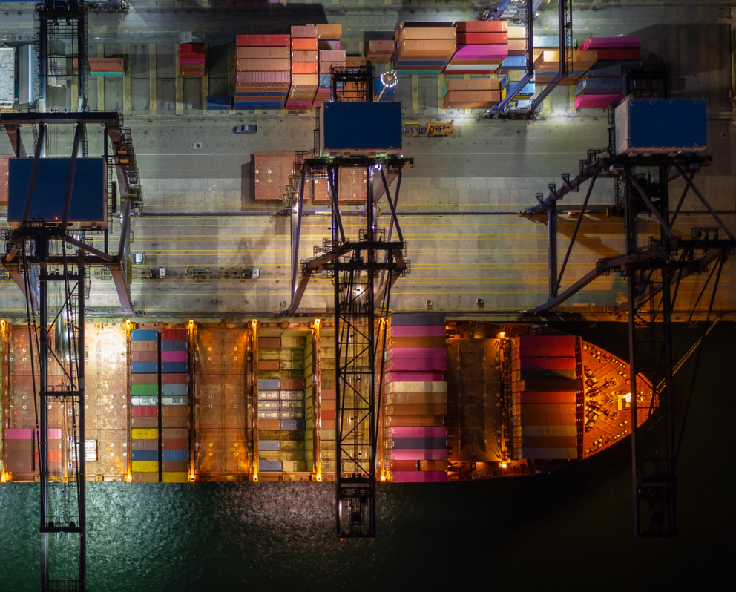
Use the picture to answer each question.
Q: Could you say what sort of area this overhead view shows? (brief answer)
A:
port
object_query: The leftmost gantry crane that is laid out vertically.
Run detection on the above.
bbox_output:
[0,0,161,592]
